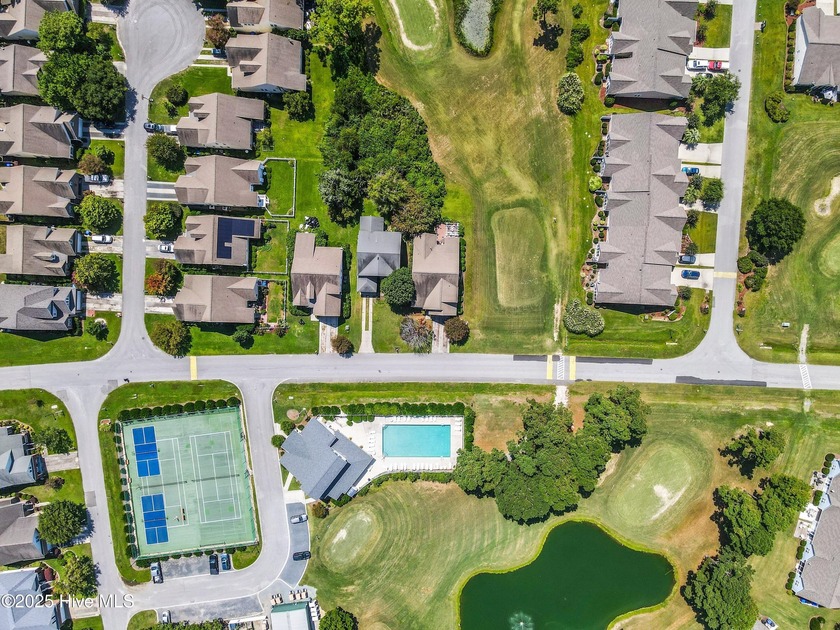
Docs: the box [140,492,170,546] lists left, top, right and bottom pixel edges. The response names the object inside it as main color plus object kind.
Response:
blue sports court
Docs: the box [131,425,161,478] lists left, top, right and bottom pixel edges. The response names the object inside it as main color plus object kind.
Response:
blue sports court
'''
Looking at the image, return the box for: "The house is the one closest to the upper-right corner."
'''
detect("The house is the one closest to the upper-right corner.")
[795,2,840,88]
